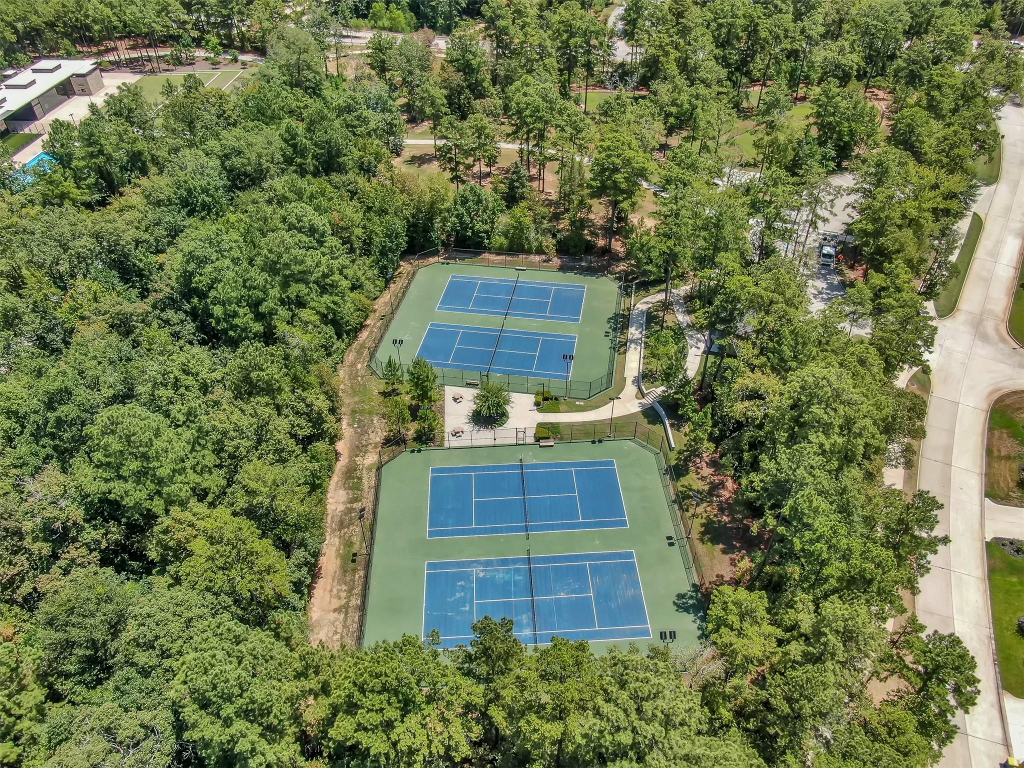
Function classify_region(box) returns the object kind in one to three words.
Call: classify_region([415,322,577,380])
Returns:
tennis court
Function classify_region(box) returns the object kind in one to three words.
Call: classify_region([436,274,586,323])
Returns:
tennis court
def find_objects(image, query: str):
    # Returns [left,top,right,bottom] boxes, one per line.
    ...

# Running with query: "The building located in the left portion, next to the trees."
[0,56,108,140]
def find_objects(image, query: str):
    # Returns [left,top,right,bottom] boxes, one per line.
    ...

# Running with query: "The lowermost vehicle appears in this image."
[821,230,842,260]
